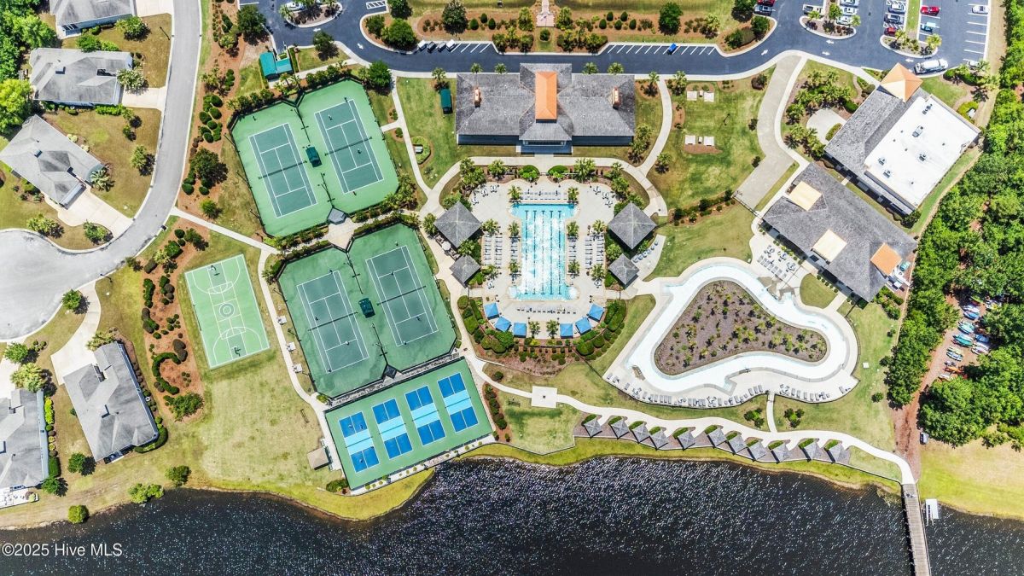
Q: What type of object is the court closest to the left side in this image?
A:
basketball court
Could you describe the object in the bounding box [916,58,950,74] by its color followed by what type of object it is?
white vehicle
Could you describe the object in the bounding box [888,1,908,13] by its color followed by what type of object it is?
white vehicle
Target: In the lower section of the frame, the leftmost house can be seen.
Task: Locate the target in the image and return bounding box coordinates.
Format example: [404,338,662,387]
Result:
[0,388,50,486]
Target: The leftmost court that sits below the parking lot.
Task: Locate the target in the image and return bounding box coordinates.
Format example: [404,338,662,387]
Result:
[184,254,270,369]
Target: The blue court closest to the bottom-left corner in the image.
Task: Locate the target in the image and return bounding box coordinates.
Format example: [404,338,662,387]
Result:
[339,411,379,473]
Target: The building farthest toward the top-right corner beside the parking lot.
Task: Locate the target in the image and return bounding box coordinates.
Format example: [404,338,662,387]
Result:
[822,62,982,214]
